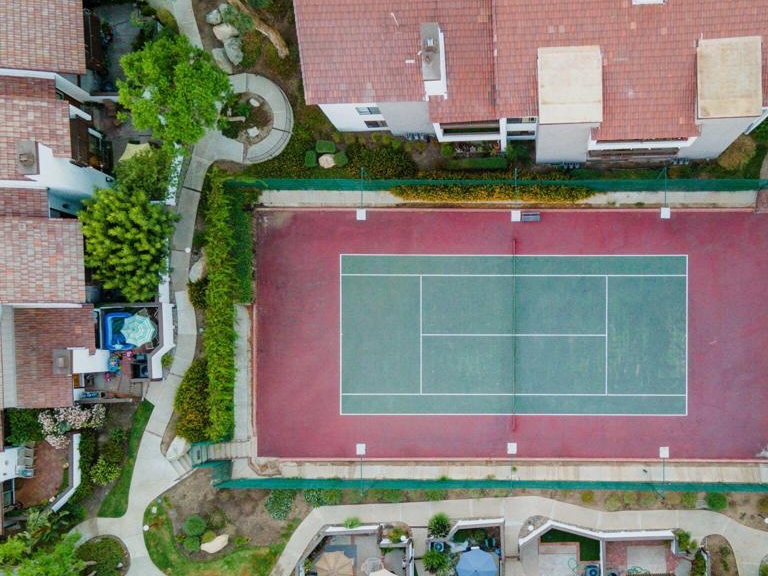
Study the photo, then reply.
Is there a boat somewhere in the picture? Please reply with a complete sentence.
No, the photo shows no boat.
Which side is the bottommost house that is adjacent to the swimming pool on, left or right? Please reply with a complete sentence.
The bottommost house that is adjacent to the swimming pool is on the left side of the image.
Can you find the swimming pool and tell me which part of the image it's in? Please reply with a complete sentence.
Look in the left portion of the view to spot the swimming pool.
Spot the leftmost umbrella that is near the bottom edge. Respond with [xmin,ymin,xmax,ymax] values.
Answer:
[316,550,355,576]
